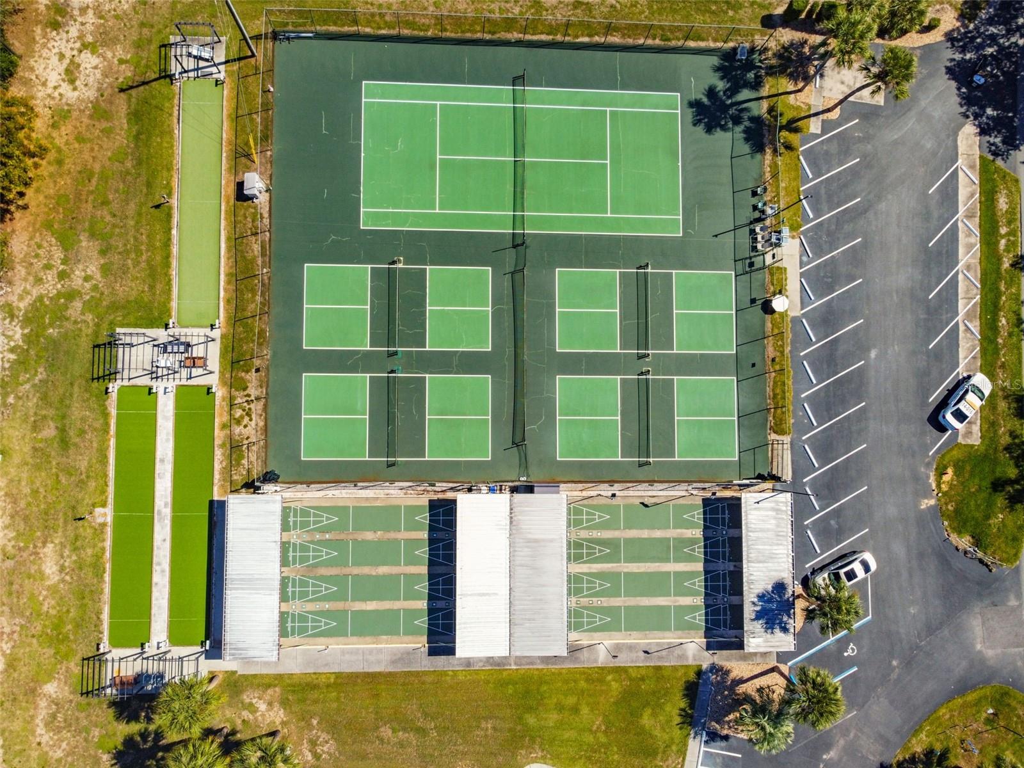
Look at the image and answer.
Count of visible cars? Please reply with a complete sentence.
Looking from above, you can make out 2 cars.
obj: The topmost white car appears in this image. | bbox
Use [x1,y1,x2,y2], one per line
[940,374,990,431]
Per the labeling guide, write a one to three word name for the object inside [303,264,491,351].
sports court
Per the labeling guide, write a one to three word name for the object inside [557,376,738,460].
sports court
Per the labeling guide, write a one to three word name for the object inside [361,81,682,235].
tennis court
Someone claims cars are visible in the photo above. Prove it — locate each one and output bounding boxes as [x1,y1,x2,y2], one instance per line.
[811,550,876,591]
[940,374,990,431]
